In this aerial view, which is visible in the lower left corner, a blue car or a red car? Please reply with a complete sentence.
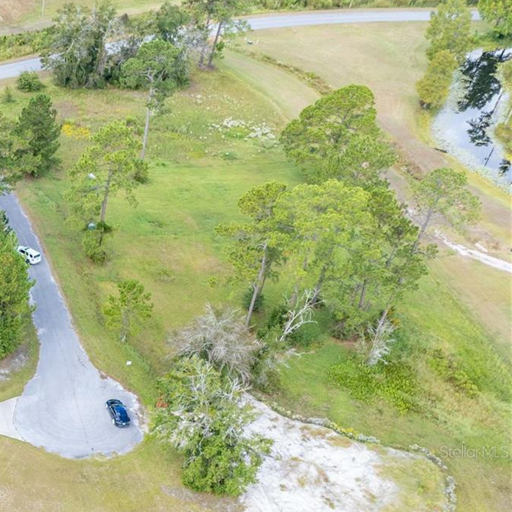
What appears in the lower left corner is a blue car.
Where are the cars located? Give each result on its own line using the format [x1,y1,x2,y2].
[104,400,134,428]
[19,246,44,267]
